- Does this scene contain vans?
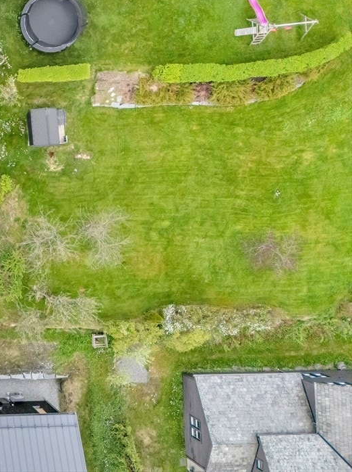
No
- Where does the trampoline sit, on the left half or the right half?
left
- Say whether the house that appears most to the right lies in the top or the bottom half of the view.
bottom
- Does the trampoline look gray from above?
Yes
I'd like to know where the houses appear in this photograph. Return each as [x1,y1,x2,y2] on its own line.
[0,400,87,472]
[181,367,352,472]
